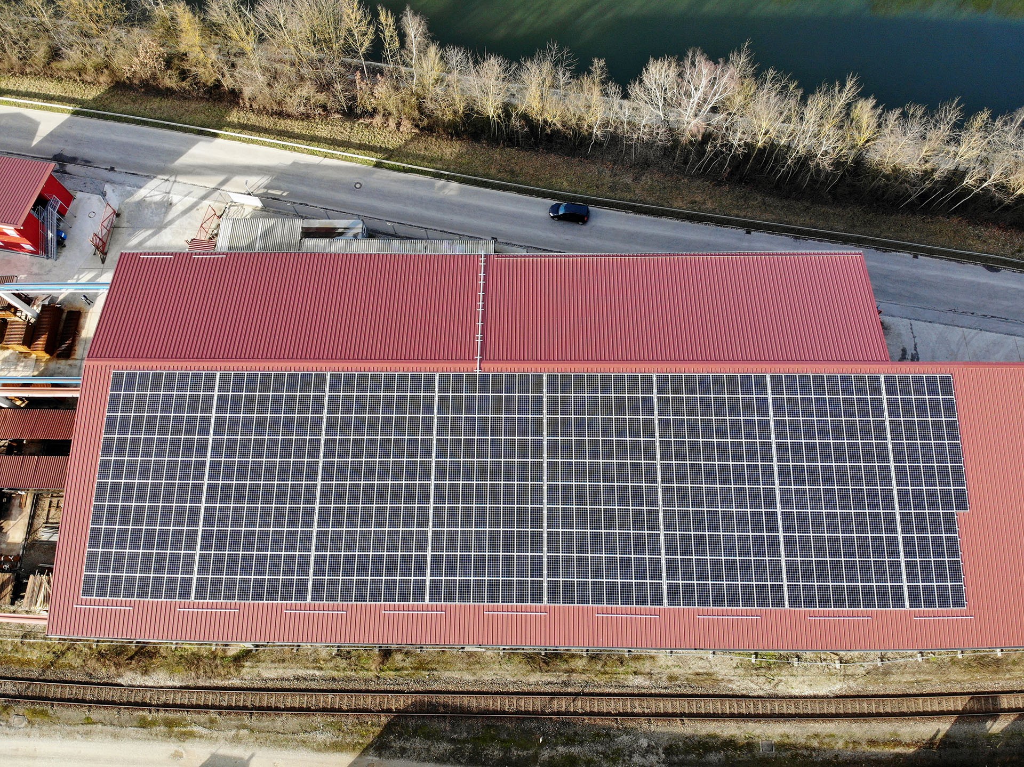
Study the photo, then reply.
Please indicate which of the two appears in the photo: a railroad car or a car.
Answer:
car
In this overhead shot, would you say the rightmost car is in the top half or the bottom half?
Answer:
top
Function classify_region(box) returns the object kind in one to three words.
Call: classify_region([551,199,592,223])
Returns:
car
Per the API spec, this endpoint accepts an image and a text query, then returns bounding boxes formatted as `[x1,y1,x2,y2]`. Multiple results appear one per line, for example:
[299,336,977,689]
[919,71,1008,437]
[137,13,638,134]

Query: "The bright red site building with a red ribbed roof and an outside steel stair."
[0,152,84,267]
